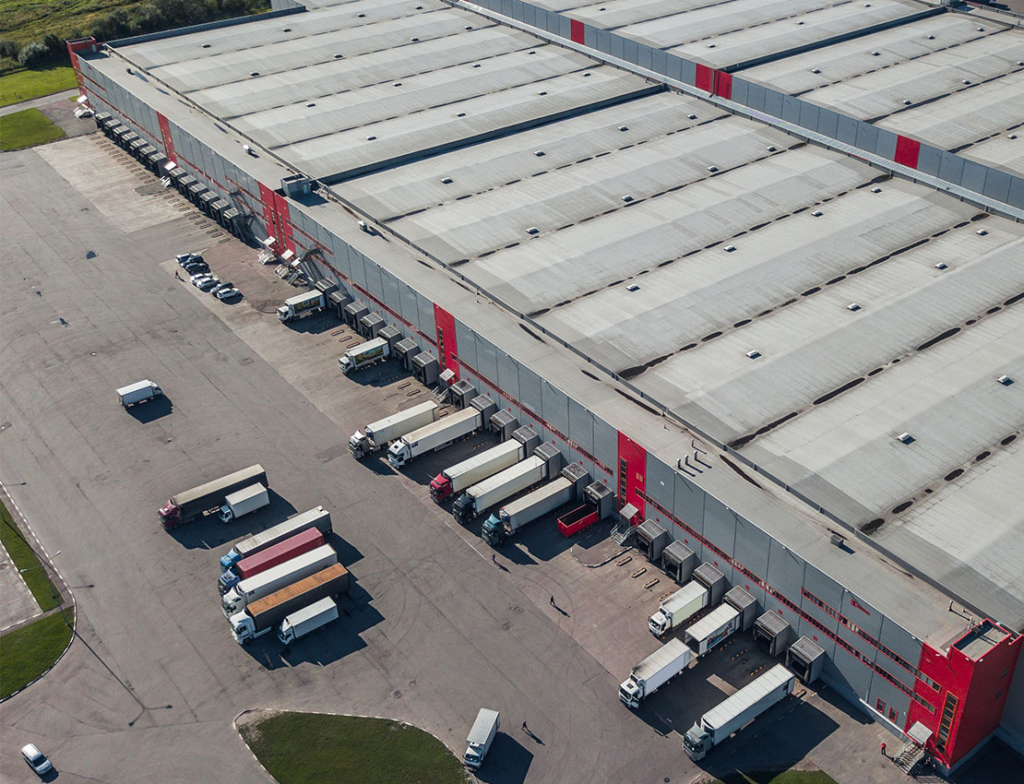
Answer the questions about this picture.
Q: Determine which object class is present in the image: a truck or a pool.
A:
truck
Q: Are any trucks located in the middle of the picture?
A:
Yes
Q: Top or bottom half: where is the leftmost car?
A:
bottom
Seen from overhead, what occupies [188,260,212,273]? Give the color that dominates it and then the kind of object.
black vehicle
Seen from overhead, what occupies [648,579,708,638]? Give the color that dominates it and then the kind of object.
white truck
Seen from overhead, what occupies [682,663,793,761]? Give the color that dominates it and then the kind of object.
white truck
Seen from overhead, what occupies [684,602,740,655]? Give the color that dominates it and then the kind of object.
white trailer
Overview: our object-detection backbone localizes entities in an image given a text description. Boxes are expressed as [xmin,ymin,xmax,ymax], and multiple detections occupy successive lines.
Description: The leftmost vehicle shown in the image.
[22,741,51,775]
